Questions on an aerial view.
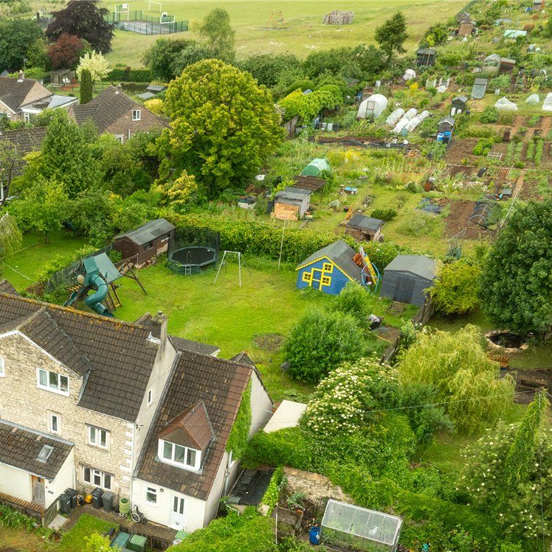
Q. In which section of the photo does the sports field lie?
top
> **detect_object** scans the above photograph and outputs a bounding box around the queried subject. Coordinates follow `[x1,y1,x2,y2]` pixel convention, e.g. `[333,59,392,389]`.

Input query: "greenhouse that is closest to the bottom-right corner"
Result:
[324,497,408,552]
